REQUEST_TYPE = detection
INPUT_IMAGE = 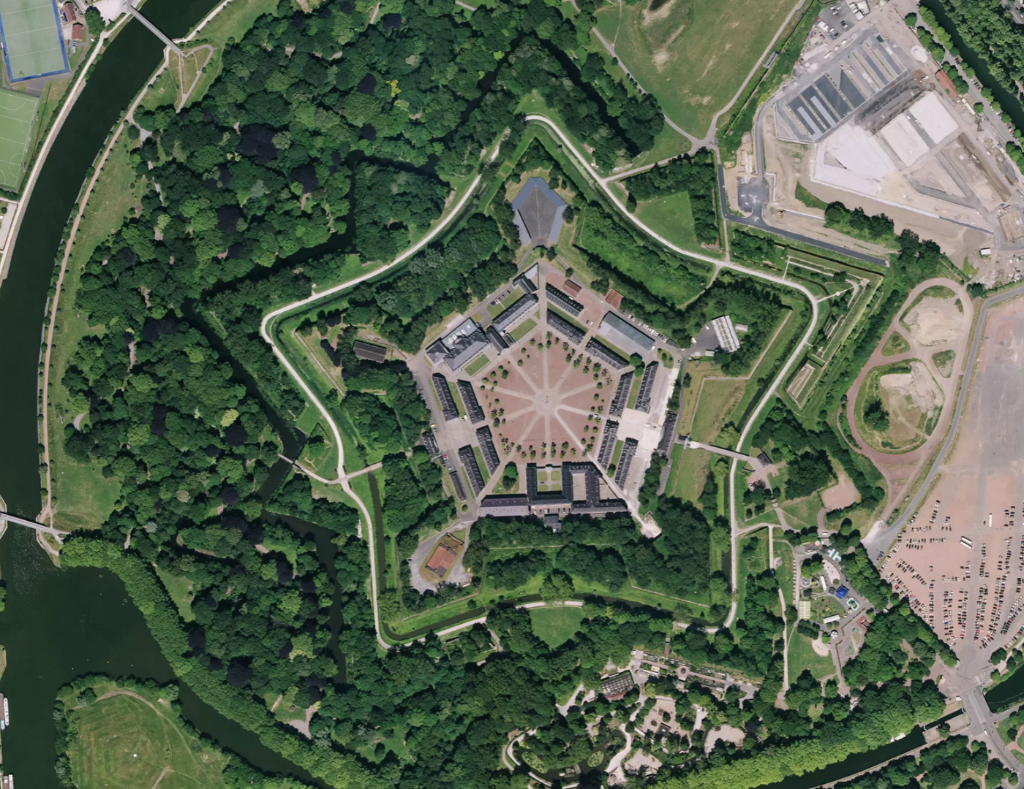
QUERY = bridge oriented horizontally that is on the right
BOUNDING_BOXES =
[688,439,760,463]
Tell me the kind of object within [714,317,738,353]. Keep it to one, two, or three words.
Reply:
hangar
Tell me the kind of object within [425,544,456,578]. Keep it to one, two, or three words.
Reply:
house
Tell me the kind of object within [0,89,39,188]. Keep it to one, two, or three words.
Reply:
soccer field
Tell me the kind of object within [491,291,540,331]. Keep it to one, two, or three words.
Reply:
building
